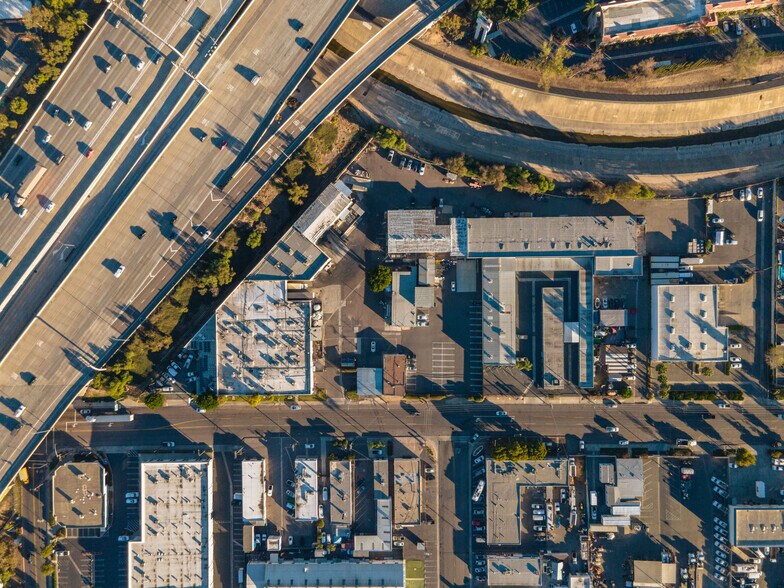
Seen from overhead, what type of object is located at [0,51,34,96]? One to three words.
house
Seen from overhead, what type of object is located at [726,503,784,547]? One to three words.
building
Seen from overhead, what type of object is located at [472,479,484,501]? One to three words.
vehicle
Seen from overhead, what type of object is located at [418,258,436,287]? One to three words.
shed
